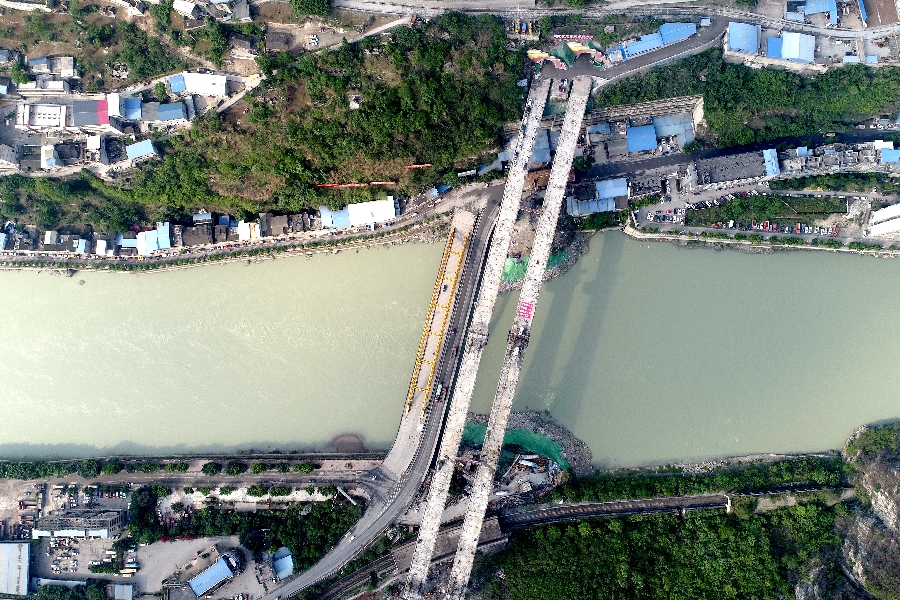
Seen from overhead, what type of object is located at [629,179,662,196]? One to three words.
shed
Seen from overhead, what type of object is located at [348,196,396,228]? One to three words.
house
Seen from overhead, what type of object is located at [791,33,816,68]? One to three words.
building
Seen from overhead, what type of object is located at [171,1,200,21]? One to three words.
barn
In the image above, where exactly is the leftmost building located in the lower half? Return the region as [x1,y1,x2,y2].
[0,538,38,595]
